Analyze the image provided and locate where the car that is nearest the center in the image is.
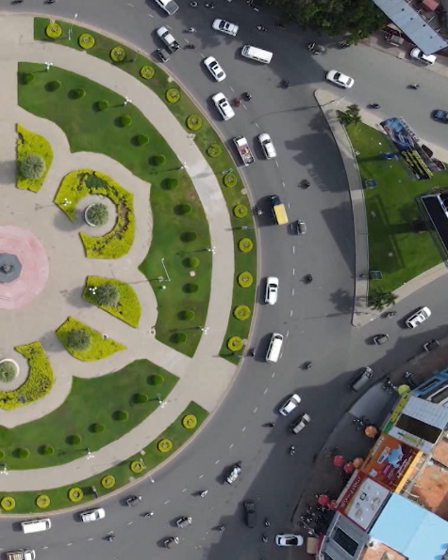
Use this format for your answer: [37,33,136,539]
[265,277,279,304]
